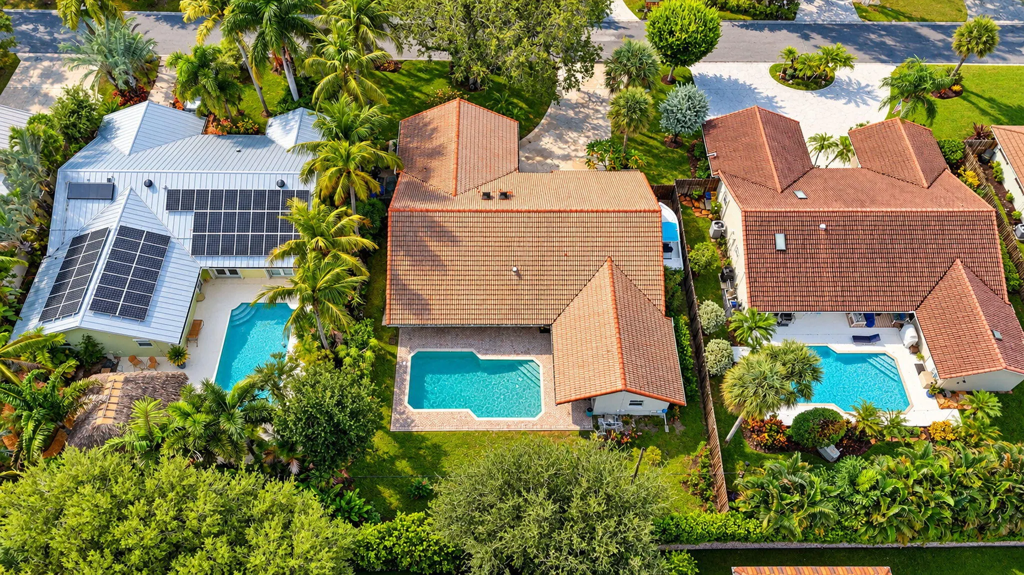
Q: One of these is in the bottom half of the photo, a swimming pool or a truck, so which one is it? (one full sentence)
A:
There is a swimming pool in the bottom half of the photo.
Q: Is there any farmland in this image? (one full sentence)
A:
No, the scene doesn't show any farmland.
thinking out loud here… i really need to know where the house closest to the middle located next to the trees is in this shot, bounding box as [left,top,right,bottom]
[384,97,687,414]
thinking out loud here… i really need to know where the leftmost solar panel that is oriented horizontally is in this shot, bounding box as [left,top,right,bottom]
[64,178,114,201]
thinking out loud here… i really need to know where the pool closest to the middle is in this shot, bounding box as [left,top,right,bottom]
[403,348,546,421]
